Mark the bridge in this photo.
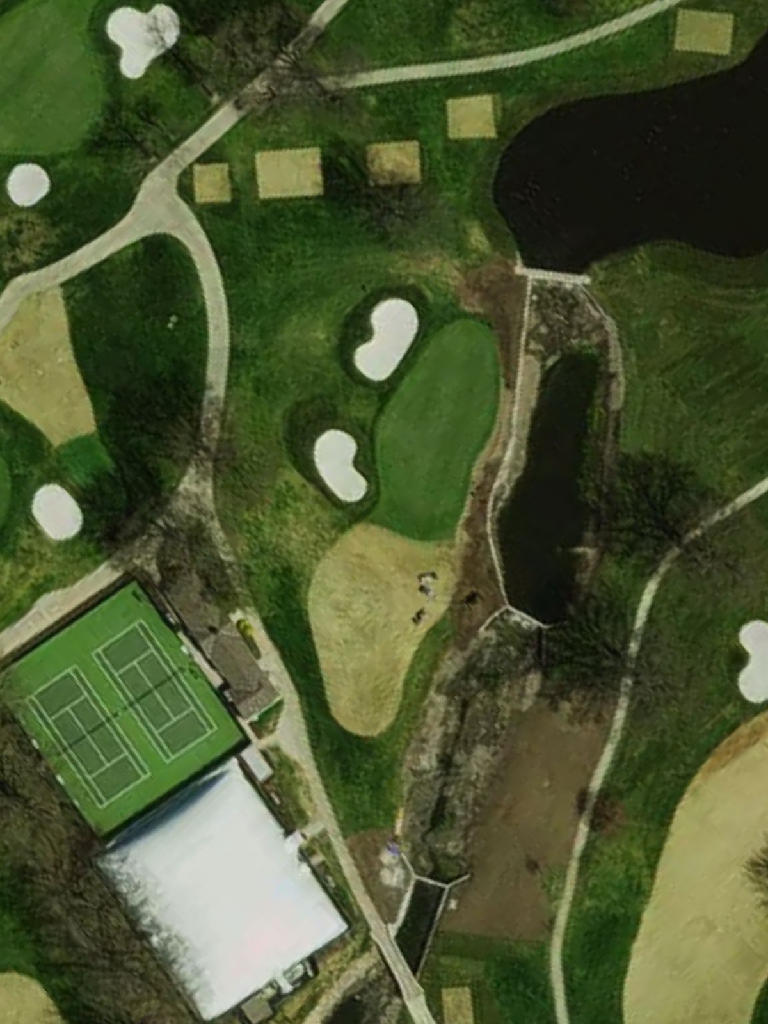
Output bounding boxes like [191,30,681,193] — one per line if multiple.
[371,926,424,1001]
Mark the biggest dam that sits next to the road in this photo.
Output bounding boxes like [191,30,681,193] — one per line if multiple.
[390,853,470,975]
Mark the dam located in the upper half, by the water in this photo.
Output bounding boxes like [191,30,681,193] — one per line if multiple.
[514,252,595,285]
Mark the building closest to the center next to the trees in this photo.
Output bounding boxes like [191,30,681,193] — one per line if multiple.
[173,584,282,720]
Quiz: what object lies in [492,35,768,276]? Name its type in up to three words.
pond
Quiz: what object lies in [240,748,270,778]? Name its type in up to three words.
shed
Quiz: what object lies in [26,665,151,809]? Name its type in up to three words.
tennis court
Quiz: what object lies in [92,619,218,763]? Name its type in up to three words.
tennis court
